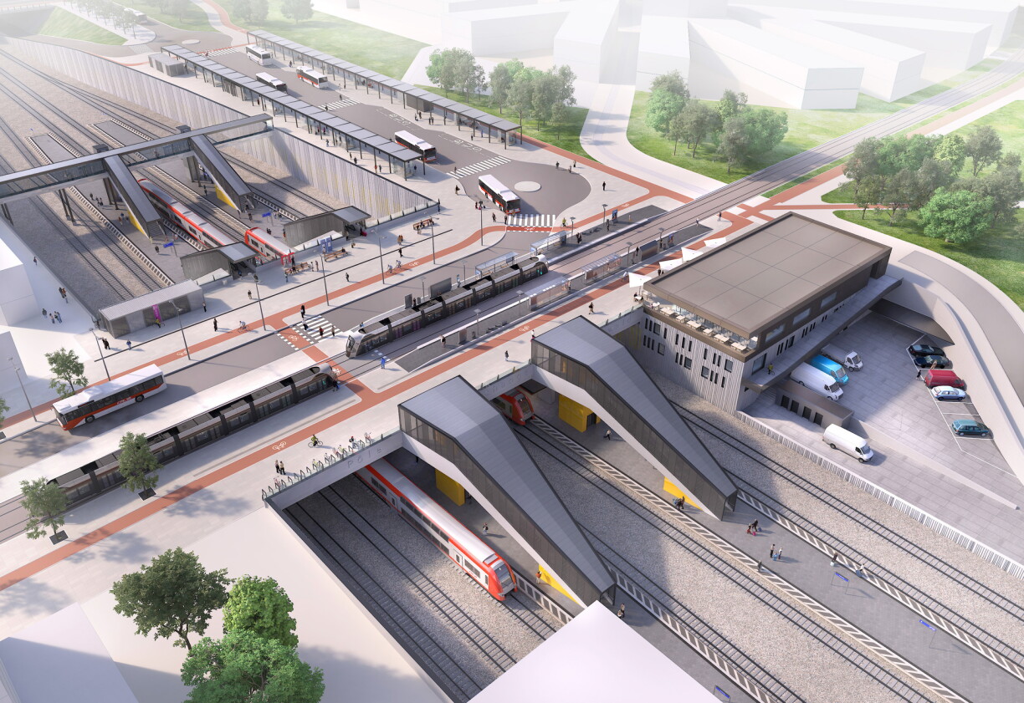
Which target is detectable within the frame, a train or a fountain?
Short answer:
train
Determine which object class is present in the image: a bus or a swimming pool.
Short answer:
bus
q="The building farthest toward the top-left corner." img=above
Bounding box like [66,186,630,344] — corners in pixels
[147,48,185,74]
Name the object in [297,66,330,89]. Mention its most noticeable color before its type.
white bus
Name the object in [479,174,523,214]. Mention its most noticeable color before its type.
white bus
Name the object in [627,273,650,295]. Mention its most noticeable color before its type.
white umbrella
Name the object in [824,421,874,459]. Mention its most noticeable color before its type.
white van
